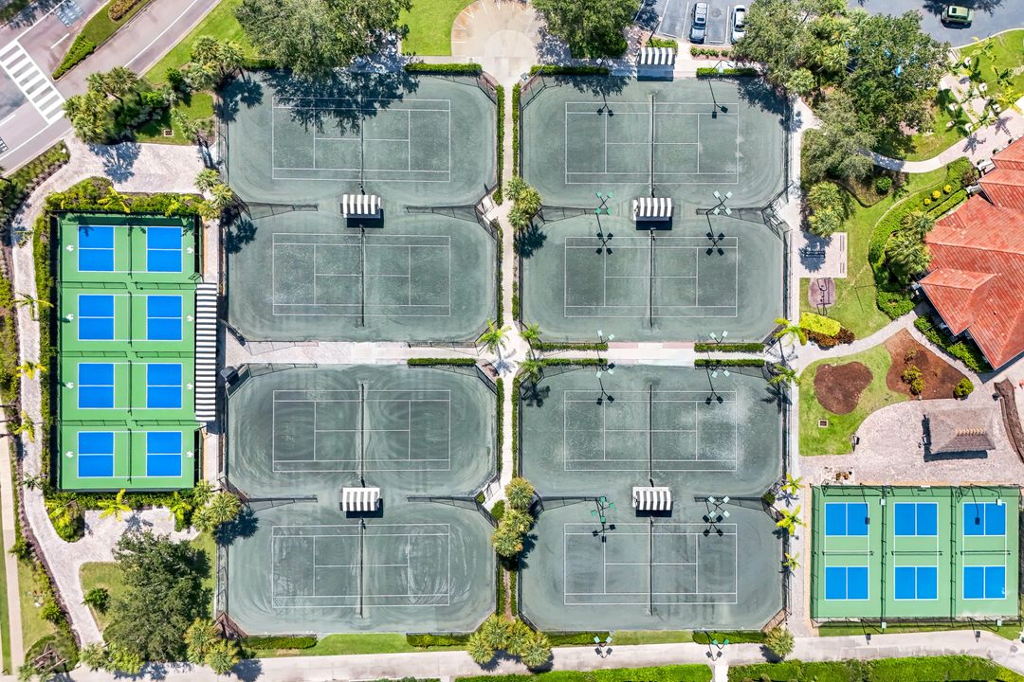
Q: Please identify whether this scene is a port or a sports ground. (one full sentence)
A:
The area seen from above is a sports ground.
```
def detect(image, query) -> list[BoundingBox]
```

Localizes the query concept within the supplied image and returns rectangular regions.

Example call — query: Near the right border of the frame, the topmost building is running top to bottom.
[916,138,1024,370]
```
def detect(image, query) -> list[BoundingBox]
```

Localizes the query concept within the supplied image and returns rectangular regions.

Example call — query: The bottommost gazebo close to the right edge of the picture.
[920,408,998,453]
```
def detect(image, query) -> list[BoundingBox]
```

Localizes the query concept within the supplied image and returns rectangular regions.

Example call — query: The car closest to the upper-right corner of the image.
[939,7,977,28]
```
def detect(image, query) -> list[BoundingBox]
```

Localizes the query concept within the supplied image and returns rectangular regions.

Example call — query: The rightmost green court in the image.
[953,487,1020,619]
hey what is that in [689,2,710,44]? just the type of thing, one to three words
car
